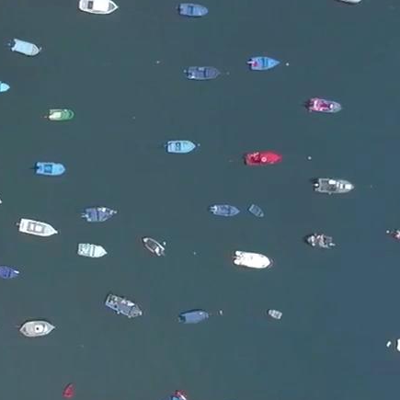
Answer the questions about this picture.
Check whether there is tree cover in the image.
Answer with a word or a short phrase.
No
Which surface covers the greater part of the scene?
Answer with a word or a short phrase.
water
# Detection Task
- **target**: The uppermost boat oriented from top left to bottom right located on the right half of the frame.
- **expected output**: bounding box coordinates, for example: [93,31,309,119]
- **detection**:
[247,202,262,216]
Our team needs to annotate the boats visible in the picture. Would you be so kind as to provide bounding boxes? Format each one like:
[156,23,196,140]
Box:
[306,236,334,247]
[77,244,107,257]
[102,293,143,315]
[6,38,41,55]
[78,208,115,223]
[177,311,209,325]
[77,0,118,14]
[172,3,208,16]
[29,162,66,176]
[179,67,220,79]
[0,82,10,92]
[144,238,168,259]
[243,57,279,71]
[167,140,198,153]
[229,251,272,268]
[302,99,341,111]
[62,384,72,399]
[43,110,75,121]
[0,267,18,279]
[247,202,262,216]
[390,229,400,240]
[11,218,59,236]
[267,308,283,320]
[20,321,56,338]
[244,152,283,166]
[308,178,354,193]
[172,390,186,400]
